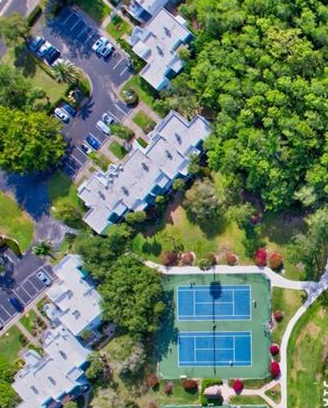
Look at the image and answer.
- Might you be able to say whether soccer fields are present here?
No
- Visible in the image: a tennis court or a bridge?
tennis court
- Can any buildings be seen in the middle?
Yes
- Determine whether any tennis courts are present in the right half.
Yes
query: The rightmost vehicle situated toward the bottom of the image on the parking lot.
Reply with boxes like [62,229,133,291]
[37,270,52,285]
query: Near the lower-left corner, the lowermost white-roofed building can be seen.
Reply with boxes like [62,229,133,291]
[11,325,101,408]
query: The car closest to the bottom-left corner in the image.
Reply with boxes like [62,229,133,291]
[9,298,23,313]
